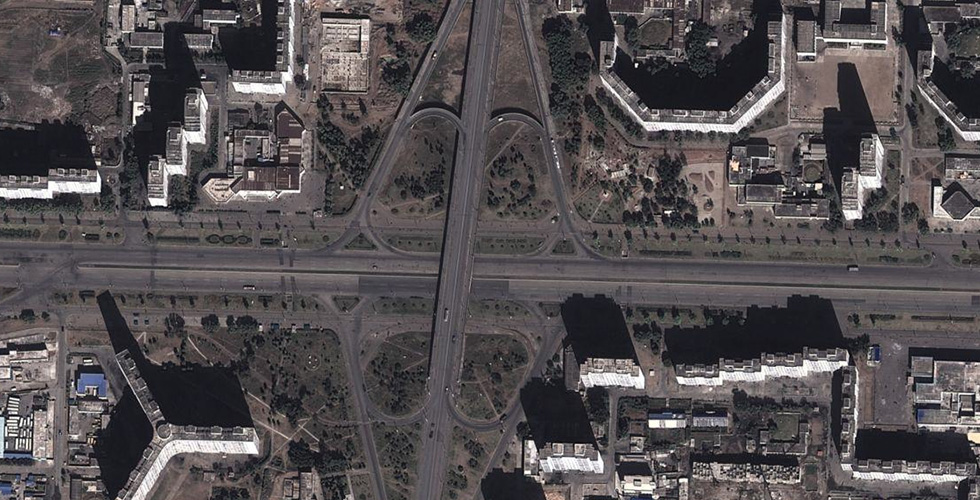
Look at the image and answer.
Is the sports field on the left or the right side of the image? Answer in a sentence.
It is on the right.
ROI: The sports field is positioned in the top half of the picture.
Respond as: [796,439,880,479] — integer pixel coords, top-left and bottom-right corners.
[791,57,897,119]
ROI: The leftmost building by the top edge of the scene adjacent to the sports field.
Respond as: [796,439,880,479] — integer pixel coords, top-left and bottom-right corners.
[600,20,786,133]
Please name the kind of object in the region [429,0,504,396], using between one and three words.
overpass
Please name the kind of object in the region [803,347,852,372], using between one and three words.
building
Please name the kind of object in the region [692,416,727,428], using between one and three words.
shed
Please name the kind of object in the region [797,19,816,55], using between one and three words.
building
